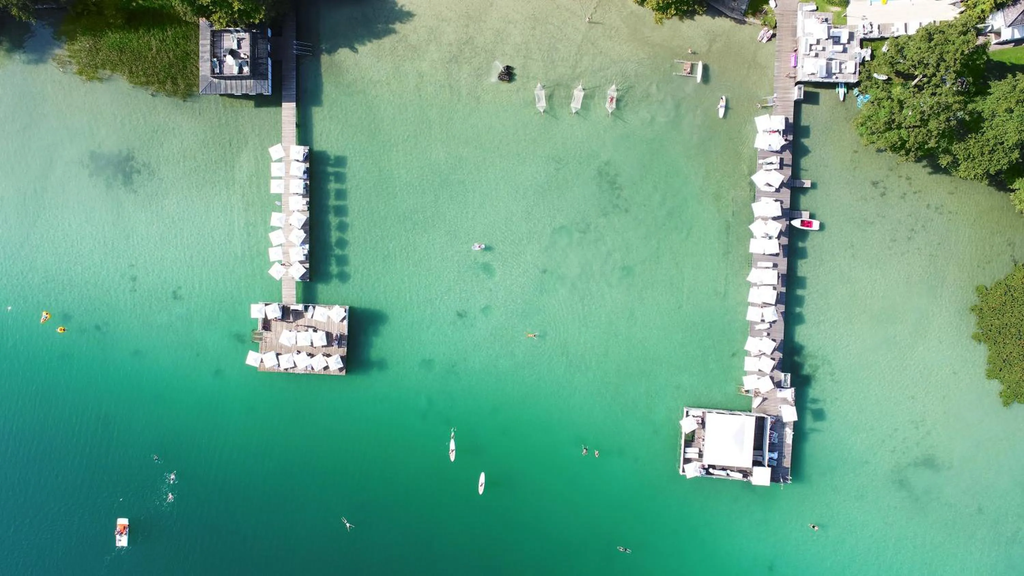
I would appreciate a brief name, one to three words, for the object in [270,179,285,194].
umbrella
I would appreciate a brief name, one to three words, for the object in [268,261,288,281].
umbrella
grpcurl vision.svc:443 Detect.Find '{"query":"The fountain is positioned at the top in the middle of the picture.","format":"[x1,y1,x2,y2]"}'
[489,62,514,82]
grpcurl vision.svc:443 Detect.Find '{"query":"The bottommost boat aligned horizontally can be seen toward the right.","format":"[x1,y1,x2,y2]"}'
[792,218,821,230]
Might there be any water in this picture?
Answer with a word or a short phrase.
Yes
